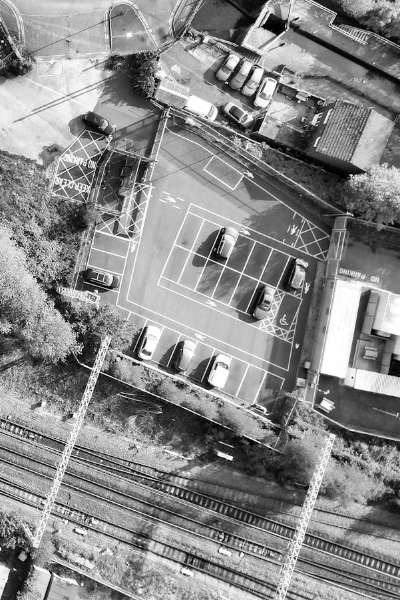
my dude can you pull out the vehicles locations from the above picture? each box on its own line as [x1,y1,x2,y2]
[286,258,309,290]
[251,284,276,320]
[221,101,254,126]
[82,269,119,287]
[183,93,217,123]
[228,59,254,91]
[137,324,159,359]
[175,338,195,371]
[80,108,117,138]
[214,225,239,260]
[250,74,279,110]
[240,64,265,98]
[206,352,231,389]
[214,52,239,84]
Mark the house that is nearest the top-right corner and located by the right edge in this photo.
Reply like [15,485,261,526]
[296,98,397,171]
